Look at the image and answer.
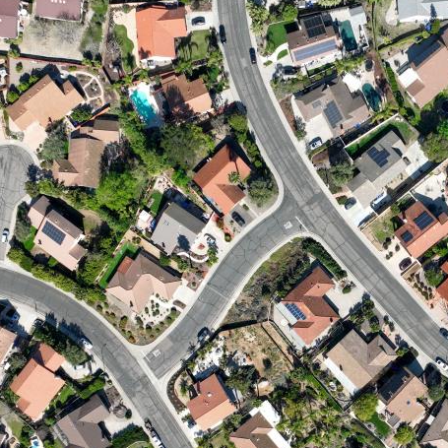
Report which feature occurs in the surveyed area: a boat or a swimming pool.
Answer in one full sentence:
The image shows a swimming pool.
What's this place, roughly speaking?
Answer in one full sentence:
This image shows a residential area.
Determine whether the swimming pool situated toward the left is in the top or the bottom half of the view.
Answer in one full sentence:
It is in the top half that the swimming pool situated toward the left appears.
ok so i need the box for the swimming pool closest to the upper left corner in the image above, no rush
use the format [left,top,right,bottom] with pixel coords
[129,86,157,124]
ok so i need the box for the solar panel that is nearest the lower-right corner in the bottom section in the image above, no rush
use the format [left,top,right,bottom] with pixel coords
[379,379,403,403]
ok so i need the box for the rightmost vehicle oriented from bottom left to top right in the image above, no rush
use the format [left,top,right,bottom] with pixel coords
[398,255,414,270]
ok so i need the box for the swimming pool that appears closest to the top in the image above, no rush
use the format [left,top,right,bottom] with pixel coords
[340,20,358,52]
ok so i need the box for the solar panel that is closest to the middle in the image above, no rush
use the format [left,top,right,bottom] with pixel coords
[286,300,308,322]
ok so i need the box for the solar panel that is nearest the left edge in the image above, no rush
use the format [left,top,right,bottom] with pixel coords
[38,220,68,245]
